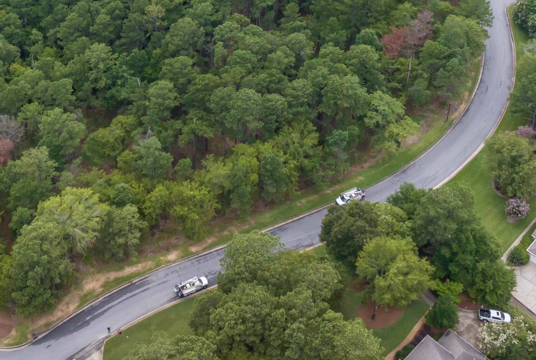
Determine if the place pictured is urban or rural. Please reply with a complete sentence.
It looks rural.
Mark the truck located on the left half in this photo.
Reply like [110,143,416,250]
[170,275,210,300]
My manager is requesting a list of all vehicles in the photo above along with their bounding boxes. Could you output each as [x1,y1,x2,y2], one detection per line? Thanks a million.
[334,184,367,206]
[477,307,512,324]
[170,275,210,300]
